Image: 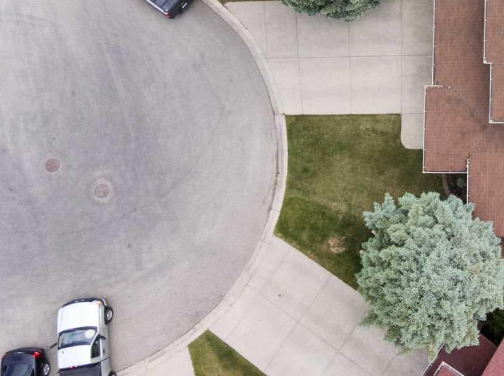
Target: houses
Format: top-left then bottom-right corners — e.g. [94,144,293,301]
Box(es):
[422,0,504,237]
[421,312,504,376]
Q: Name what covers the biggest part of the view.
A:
paved ground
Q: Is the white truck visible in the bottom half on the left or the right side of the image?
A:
left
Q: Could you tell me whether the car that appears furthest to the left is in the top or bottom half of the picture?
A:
bottom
